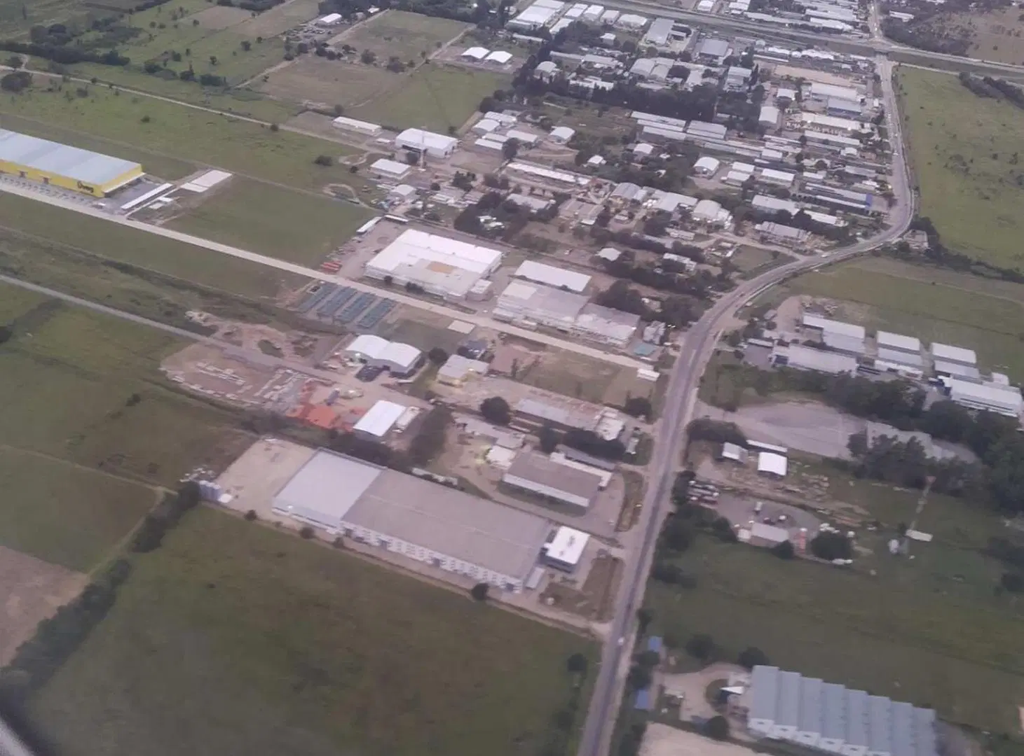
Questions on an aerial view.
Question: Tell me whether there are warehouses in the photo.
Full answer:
Yes, there's a warehouse down there.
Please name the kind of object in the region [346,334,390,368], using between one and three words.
hangar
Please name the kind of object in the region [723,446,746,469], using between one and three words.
barn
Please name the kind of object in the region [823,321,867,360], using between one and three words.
building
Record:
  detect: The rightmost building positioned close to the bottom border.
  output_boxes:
[752,666,935,756]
